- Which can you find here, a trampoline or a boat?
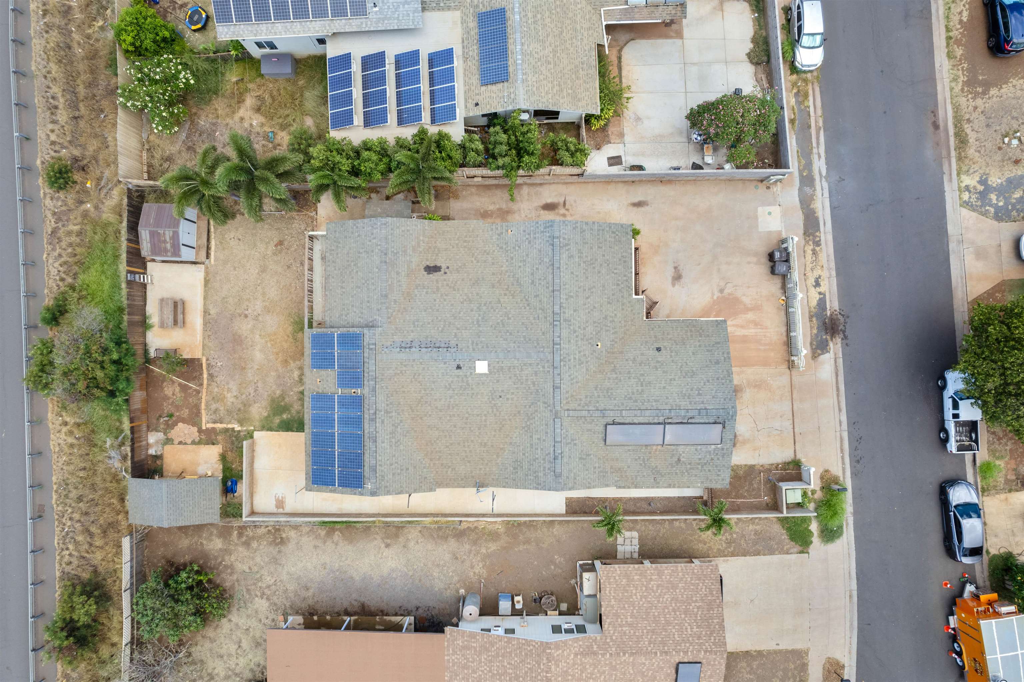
trampoline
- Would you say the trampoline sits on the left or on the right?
left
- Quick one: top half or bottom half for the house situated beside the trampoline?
top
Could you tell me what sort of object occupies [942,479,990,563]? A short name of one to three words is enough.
car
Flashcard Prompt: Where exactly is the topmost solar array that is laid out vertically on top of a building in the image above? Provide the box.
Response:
[478,6,508,84]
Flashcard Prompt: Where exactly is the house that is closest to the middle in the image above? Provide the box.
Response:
[304,217,736,497]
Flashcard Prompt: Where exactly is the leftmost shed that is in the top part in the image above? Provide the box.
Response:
[138,203,207,261]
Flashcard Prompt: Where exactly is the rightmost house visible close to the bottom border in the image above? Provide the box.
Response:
[444,559,727,682]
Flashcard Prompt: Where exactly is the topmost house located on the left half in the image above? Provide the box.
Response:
[216,0,423,58]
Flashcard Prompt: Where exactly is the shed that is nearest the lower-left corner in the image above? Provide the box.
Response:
[128,477,221,528]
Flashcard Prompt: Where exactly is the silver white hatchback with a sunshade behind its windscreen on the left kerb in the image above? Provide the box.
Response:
[791,0,835,71]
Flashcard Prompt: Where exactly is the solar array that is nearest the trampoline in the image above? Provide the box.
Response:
[210,0,368,25]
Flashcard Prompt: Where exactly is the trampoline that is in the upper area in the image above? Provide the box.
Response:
[185,6,212,32]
